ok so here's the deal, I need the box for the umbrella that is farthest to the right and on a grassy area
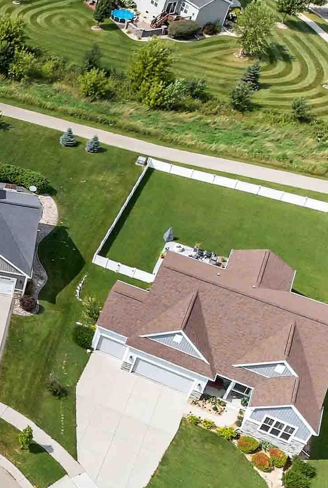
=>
[165,222,177,243]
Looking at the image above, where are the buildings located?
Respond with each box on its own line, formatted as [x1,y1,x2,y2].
[94,243,328,466]
[0,189,46,298]
[134,0,234,26]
